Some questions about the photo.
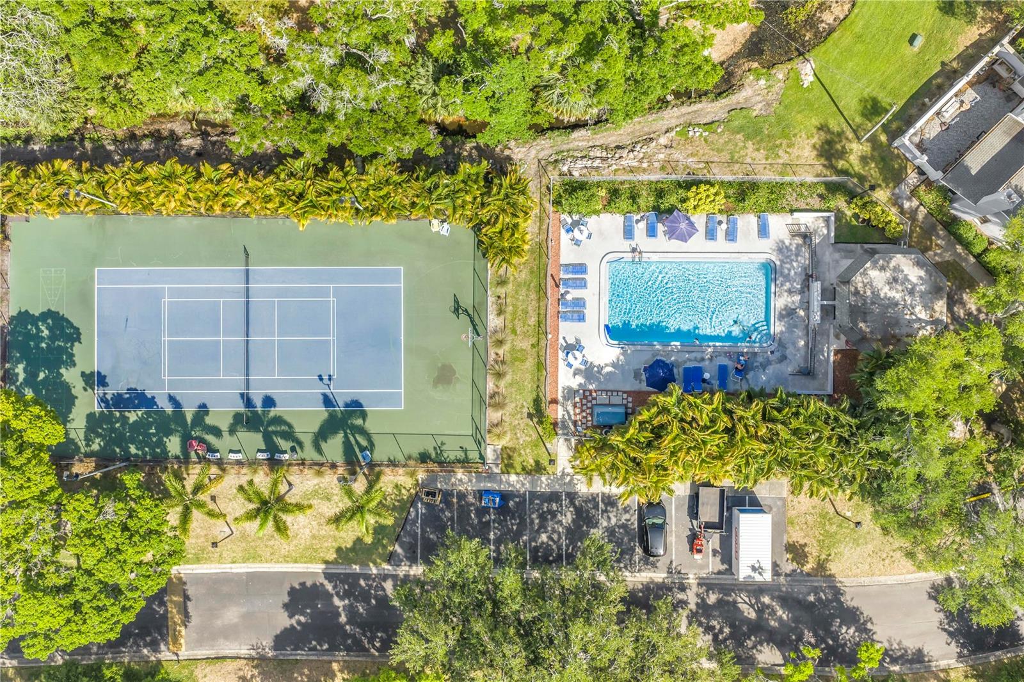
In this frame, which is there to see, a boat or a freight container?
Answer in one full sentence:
Visible in the photo is a freight container.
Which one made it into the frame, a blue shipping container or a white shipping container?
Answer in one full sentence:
I can see a white shipping container in this picture.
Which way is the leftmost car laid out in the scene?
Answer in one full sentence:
In this picture, the leftmost car lies vertically.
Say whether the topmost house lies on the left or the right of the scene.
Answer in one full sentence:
It is on the right.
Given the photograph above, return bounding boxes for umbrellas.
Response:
[640,357,677,392]
[662,209,697,246]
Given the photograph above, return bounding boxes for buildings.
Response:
[925,101,1024,258]
[833,245,950,361]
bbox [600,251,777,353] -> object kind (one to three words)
swimming pool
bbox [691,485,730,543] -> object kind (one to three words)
trailer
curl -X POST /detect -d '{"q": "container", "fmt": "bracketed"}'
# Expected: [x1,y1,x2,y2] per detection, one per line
[731,508,772,581]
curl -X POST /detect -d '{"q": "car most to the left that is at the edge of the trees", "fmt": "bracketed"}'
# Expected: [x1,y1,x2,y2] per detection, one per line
[640,501,669,559]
